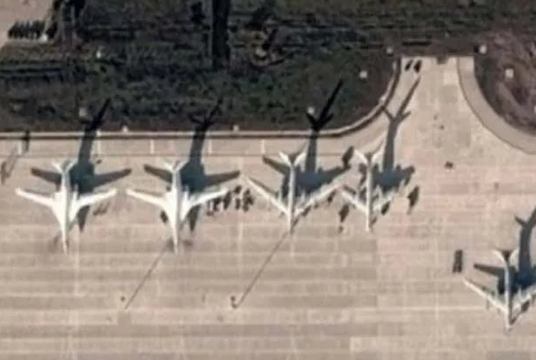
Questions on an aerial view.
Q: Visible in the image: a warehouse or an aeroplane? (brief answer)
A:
aeroplane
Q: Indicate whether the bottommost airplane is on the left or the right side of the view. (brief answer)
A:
right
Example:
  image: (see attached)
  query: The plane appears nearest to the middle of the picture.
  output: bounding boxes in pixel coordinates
[247,151,334,233]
